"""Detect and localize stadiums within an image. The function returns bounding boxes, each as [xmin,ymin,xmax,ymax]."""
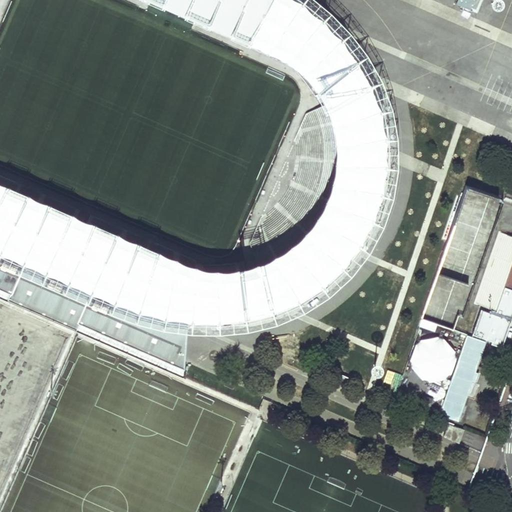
[0,0,400,335]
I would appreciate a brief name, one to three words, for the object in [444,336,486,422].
building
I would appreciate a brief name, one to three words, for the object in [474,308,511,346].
building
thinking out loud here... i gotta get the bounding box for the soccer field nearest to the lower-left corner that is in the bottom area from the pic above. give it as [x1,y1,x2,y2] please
[2,343,248,512]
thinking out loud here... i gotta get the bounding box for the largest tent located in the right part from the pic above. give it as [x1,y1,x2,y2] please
[410,336,458,383]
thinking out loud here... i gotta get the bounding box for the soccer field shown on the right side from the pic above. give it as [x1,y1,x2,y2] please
[222,421,434,512]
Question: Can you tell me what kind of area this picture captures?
sports ground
